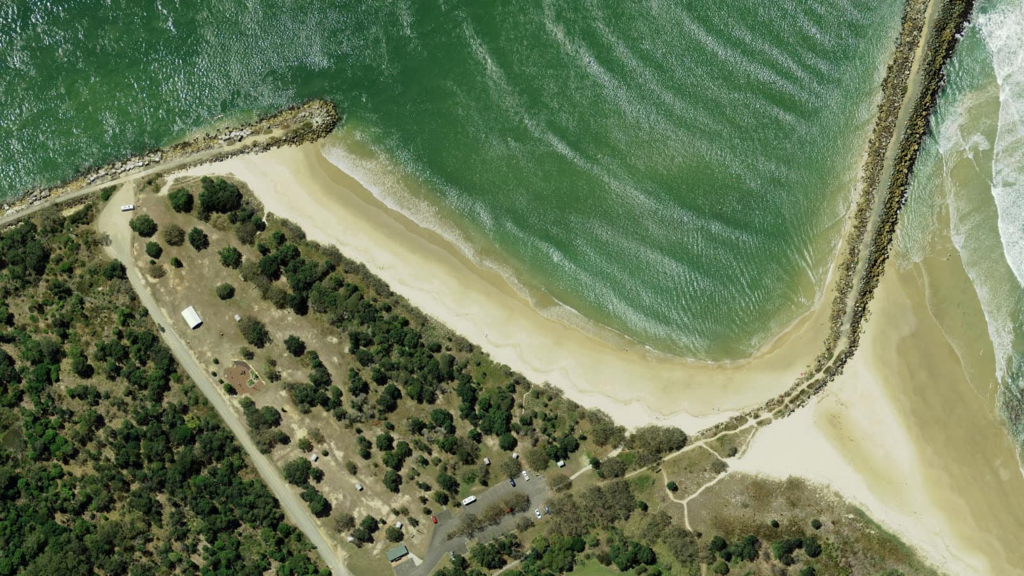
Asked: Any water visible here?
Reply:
Yes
